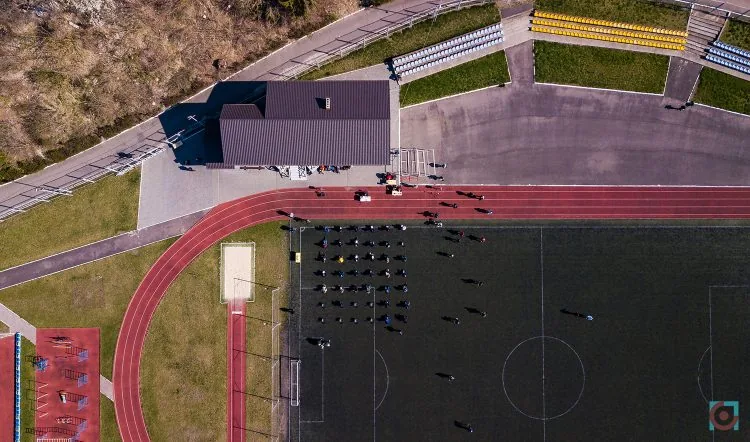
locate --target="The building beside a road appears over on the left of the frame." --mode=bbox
[206,81,390,172]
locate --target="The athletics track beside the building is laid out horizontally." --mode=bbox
[112,186,750,442]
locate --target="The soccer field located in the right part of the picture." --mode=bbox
[289,216,750,442]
